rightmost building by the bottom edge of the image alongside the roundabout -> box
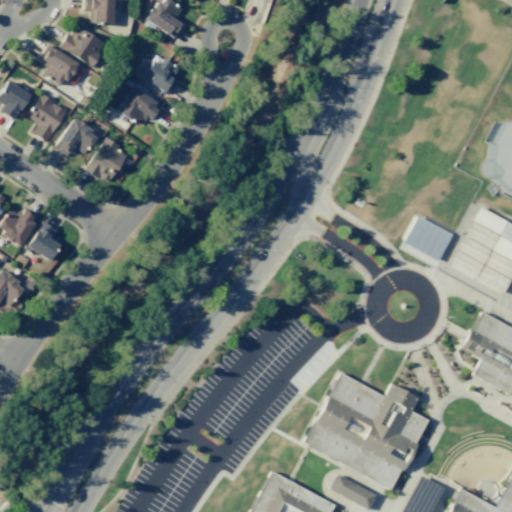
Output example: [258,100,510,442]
[306,372,430,488]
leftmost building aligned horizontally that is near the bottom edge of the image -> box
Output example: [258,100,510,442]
[246,472,336,512]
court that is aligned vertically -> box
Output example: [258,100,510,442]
[480,122,512,190]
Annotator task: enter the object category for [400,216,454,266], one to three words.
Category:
building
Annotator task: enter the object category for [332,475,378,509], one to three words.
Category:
building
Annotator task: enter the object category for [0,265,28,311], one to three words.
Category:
house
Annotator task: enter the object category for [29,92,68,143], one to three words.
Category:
house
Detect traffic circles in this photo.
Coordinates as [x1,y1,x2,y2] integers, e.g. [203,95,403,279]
[362,265,448,350]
